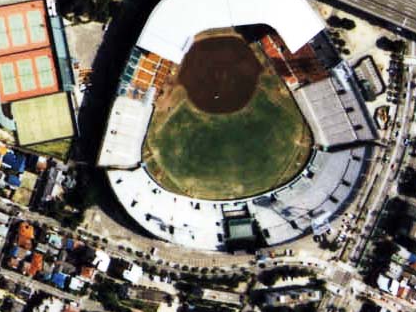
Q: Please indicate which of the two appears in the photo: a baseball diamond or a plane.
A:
baseball diamond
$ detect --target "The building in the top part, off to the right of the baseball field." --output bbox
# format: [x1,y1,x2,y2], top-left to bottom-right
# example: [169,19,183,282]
[352,58,387,100]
